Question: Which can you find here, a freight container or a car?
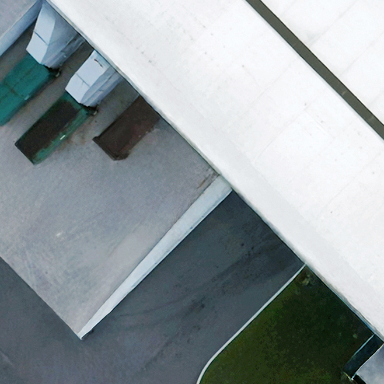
freight container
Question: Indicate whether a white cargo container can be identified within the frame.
No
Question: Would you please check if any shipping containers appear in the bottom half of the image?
No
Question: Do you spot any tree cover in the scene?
No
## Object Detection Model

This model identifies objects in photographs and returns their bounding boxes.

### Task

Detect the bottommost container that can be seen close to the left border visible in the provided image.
[13,90,92,165]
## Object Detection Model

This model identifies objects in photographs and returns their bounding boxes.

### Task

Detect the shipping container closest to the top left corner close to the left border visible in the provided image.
[0,49,51,128]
